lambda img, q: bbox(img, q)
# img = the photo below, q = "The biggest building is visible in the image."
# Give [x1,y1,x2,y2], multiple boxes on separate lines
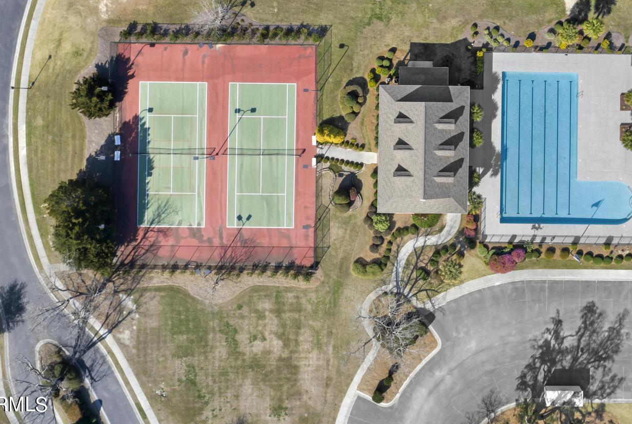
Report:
[378,85,470,214]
